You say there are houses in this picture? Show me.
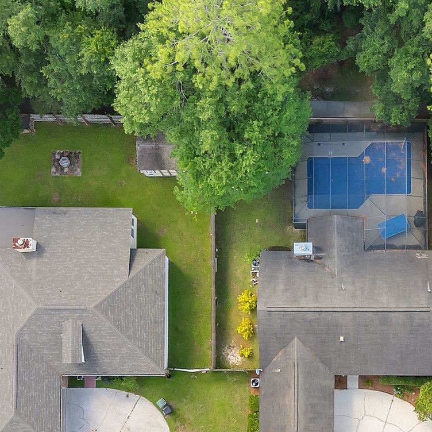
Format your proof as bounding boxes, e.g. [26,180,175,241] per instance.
[256,215,432,432]
[0,206,170,432]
